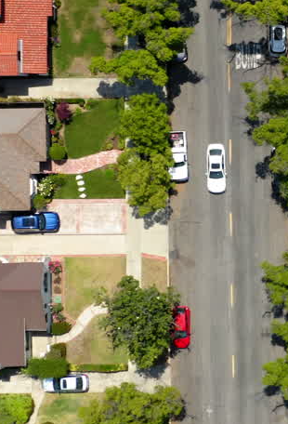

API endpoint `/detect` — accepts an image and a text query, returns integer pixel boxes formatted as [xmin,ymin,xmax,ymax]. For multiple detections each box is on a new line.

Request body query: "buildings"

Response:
[0,0,53,77]
[0,109,48,214]
[0,263,48,369]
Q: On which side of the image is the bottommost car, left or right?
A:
left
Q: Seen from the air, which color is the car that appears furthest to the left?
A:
blue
